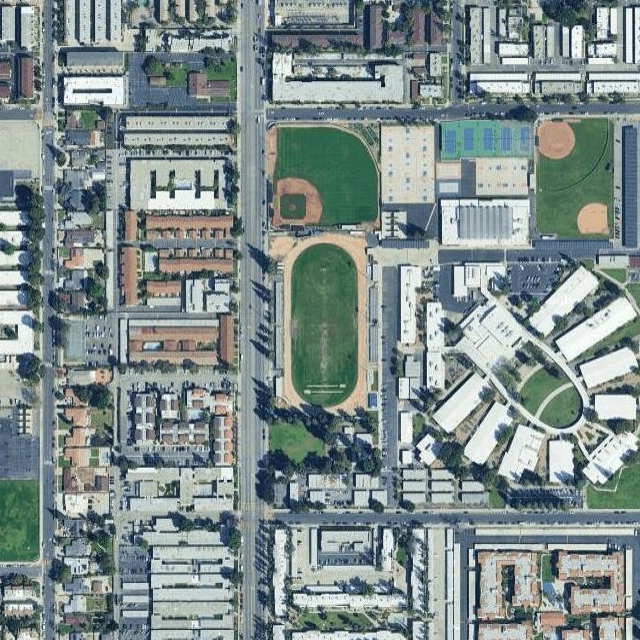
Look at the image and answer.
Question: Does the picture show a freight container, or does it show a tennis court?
tennis court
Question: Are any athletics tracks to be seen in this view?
Yes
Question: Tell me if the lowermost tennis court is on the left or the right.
left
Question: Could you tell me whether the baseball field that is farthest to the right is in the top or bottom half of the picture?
top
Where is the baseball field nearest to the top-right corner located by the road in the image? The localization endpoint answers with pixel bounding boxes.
[536,119,615,239]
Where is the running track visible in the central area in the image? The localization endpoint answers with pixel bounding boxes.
[271,233,367,413]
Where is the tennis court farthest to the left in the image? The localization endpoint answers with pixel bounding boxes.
[62,318,85,363]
